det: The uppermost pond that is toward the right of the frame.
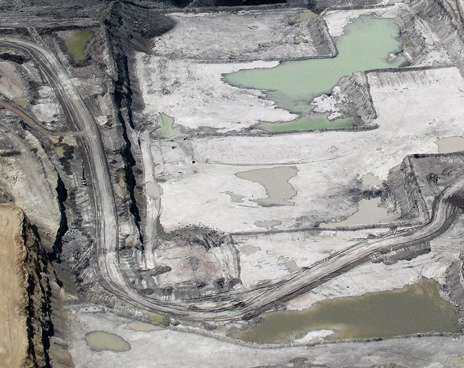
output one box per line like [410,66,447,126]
[221,14,404,108]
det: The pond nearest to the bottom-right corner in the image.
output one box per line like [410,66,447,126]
[242,279,460,343]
